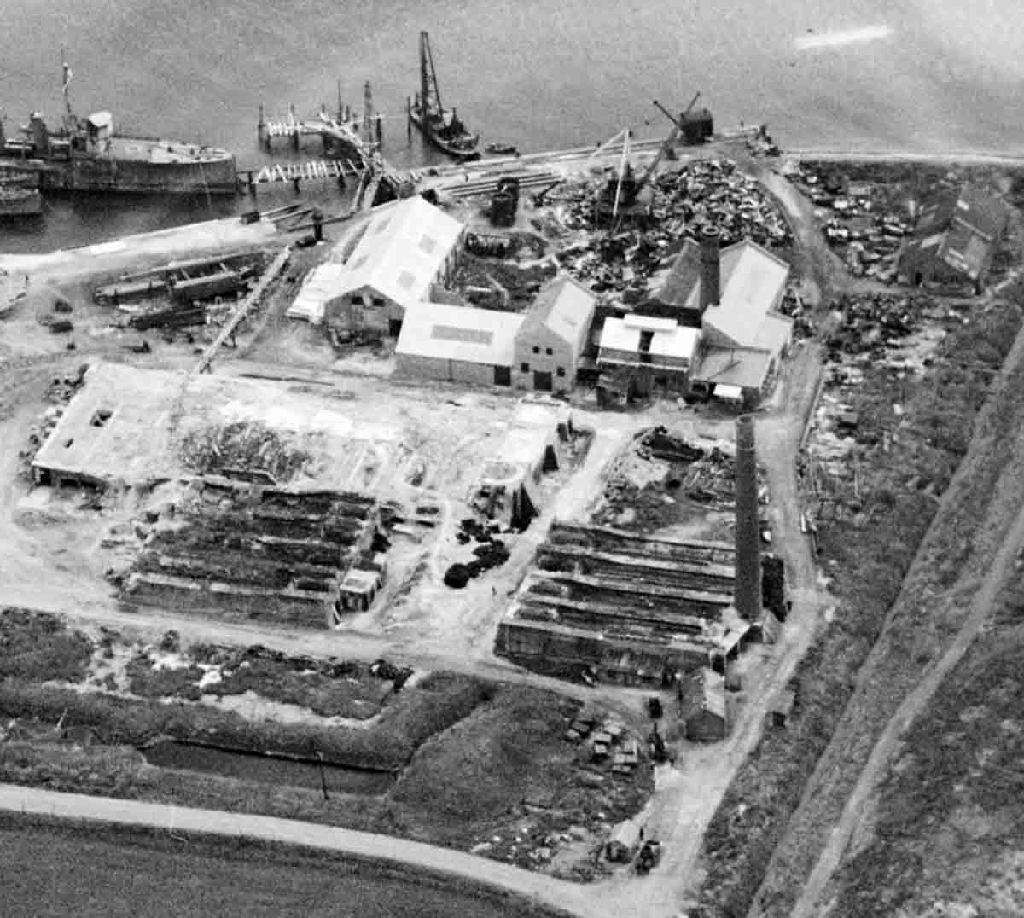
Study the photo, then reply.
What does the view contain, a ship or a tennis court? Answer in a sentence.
Looking from above, you can make out a ship.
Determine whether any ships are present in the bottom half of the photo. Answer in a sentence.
No, no ship is visible in the bottom half of the photo.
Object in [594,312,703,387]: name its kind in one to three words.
building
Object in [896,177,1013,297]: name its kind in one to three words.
building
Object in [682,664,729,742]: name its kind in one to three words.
shed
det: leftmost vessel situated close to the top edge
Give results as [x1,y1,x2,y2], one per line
[0,45,240,203]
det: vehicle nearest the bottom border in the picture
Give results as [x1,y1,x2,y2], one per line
[636,833,668,867]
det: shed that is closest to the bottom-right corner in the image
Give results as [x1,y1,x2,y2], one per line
[766,684,802,730]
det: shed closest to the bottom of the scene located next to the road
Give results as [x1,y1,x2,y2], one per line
[602,811,646,863]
